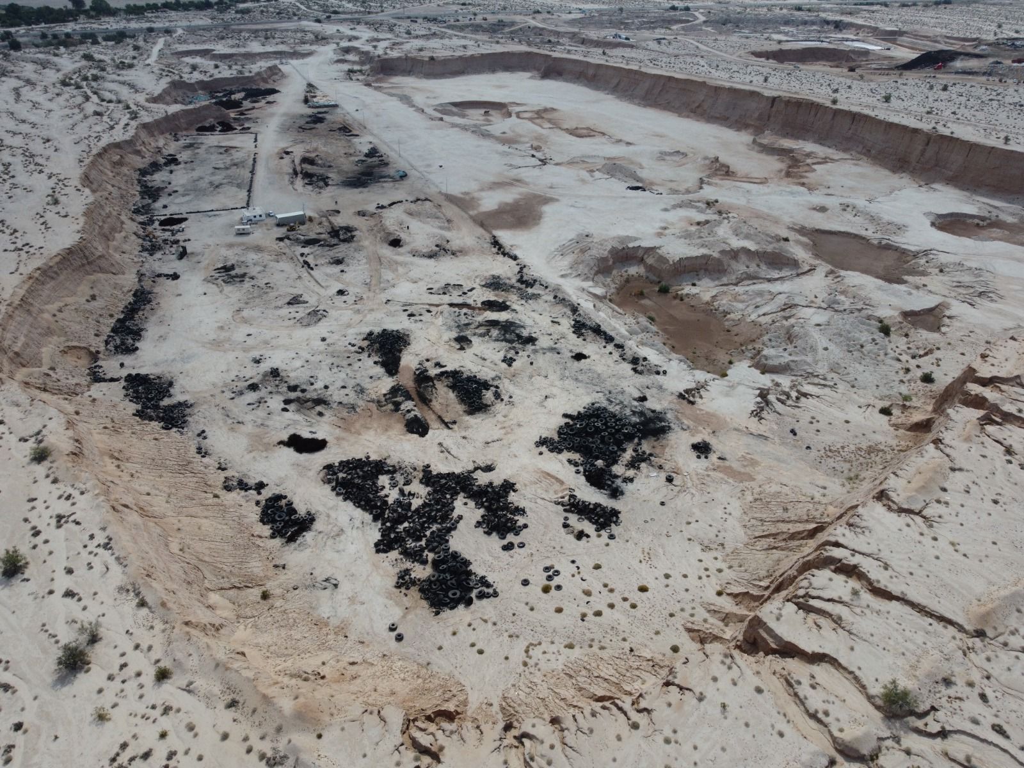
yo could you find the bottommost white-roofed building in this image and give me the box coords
[239,208,265,224]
